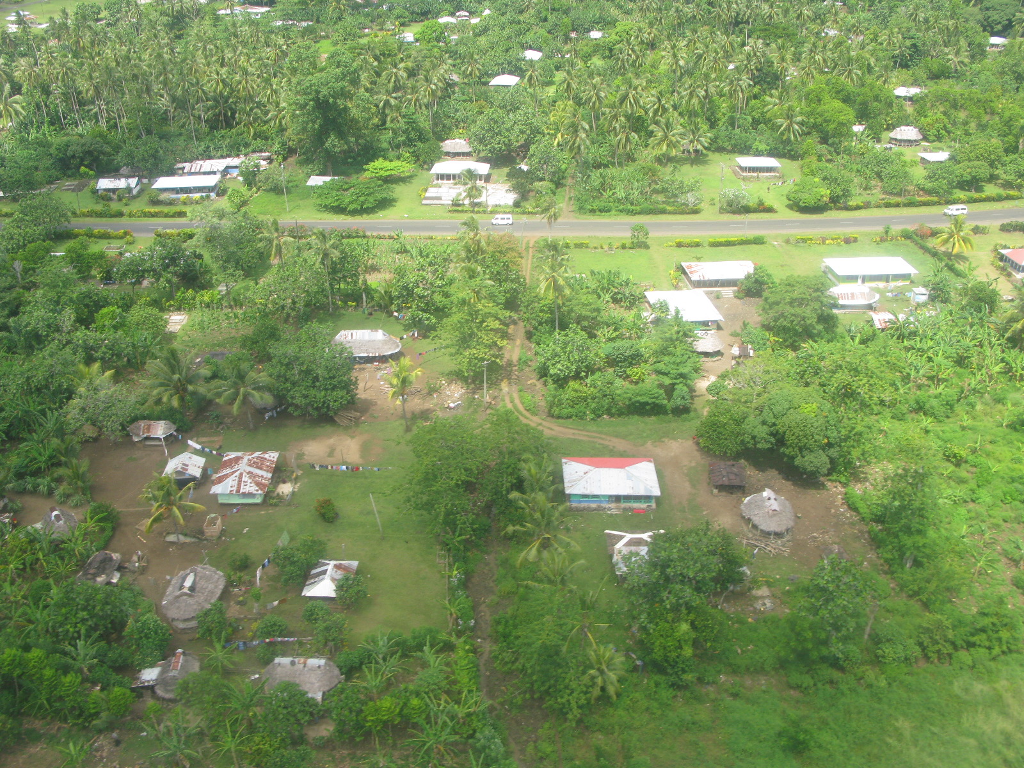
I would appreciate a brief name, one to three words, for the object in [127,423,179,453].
building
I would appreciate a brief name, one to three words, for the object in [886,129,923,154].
building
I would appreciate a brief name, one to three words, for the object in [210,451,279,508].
house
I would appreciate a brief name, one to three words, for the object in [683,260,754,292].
house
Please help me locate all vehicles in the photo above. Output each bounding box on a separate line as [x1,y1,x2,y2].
[492,214,513,225]
[945,205,969,216]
